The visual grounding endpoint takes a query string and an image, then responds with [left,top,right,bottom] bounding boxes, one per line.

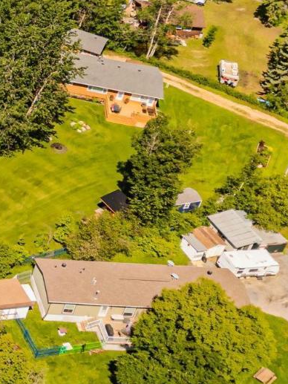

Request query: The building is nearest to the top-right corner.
[156,2,206,46]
